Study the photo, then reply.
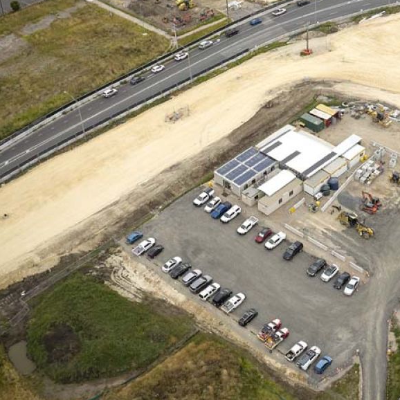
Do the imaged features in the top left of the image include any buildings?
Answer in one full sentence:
No, the scene shows no building in the top left of the image.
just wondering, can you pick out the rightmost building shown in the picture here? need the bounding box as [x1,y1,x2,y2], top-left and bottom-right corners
[341,144,365,169]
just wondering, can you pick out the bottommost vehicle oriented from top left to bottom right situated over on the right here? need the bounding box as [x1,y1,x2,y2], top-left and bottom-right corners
[339,211,376,239]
